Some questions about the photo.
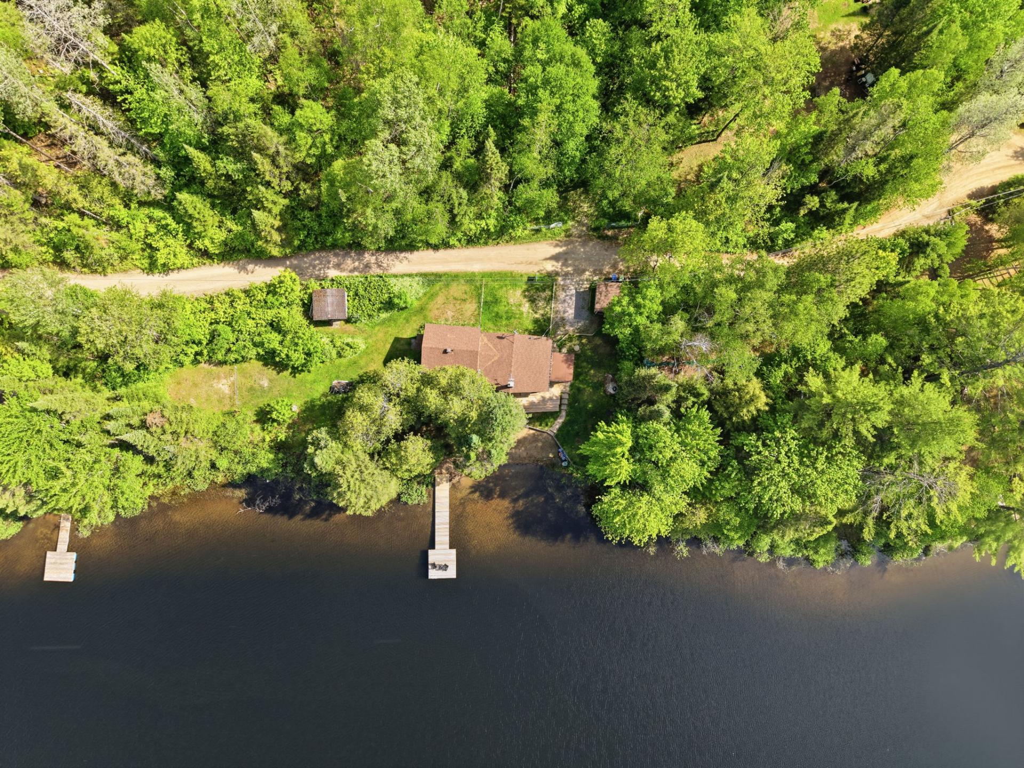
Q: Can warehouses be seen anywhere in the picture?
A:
No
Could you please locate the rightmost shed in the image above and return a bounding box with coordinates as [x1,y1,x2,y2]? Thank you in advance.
[593,280,621,313]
